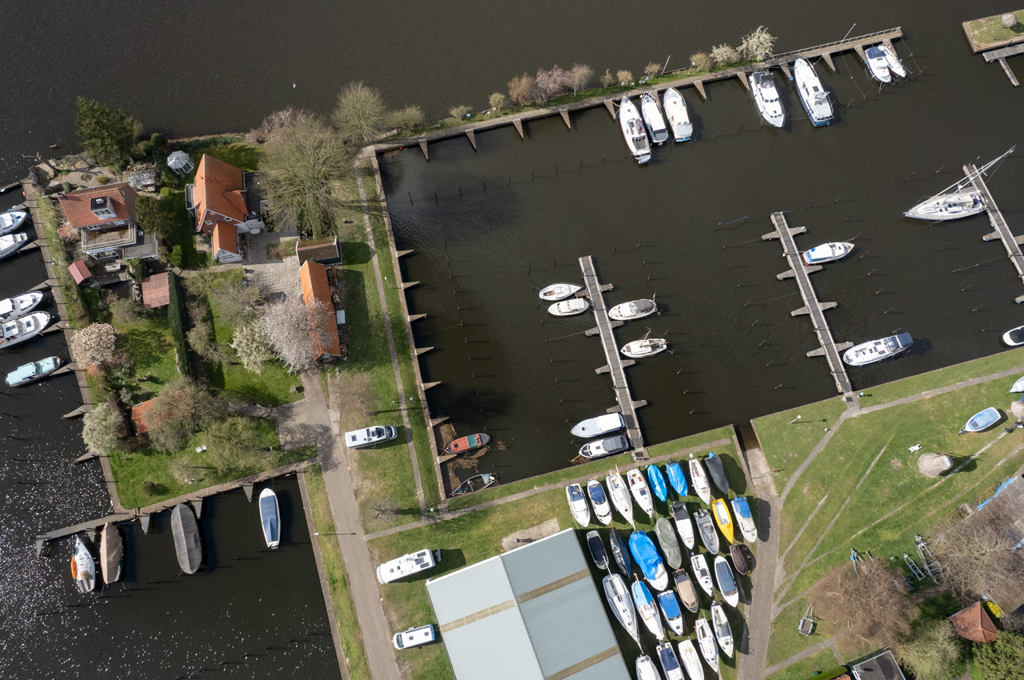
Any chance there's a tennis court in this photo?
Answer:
No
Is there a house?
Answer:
Yes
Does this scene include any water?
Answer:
Yes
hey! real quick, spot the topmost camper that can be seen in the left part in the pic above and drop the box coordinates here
[345,425,400,450]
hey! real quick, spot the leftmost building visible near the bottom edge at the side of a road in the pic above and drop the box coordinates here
[425,526,631,680]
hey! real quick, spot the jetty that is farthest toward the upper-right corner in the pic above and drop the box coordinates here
[980,44,1024,86]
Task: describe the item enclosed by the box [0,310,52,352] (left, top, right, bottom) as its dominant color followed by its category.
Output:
white boat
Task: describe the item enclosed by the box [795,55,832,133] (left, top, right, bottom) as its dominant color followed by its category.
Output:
white boat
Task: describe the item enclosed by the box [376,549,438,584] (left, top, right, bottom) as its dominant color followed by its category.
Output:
white camper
